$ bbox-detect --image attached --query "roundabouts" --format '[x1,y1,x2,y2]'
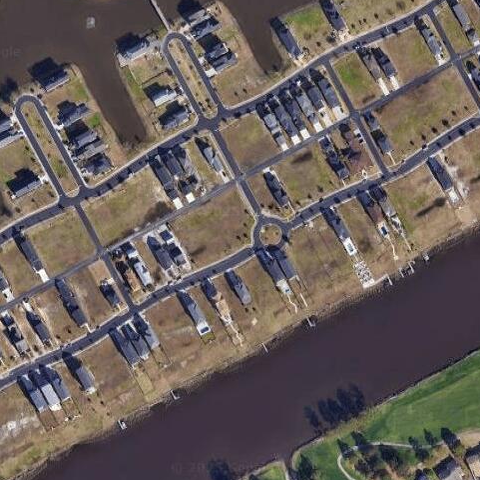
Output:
[250,214,291,255]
